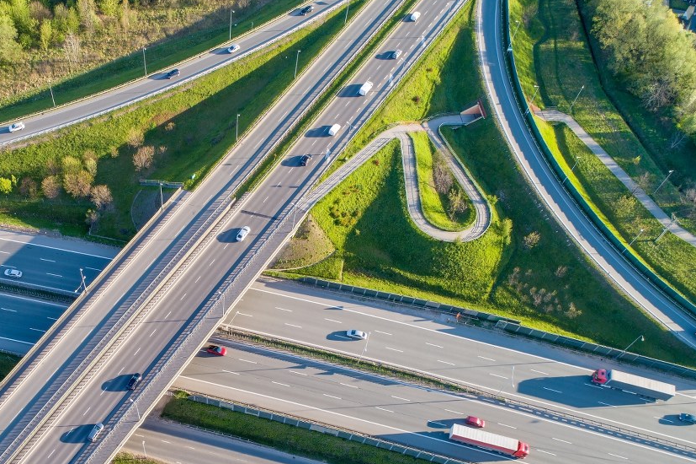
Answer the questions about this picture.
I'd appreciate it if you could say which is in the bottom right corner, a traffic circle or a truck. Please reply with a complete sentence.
You can see a truck in the bottom right corner.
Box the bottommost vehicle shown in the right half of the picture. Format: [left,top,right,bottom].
[450,424,529,459]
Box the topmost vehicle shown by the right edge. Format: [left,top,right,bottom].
[593,368,676,401]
